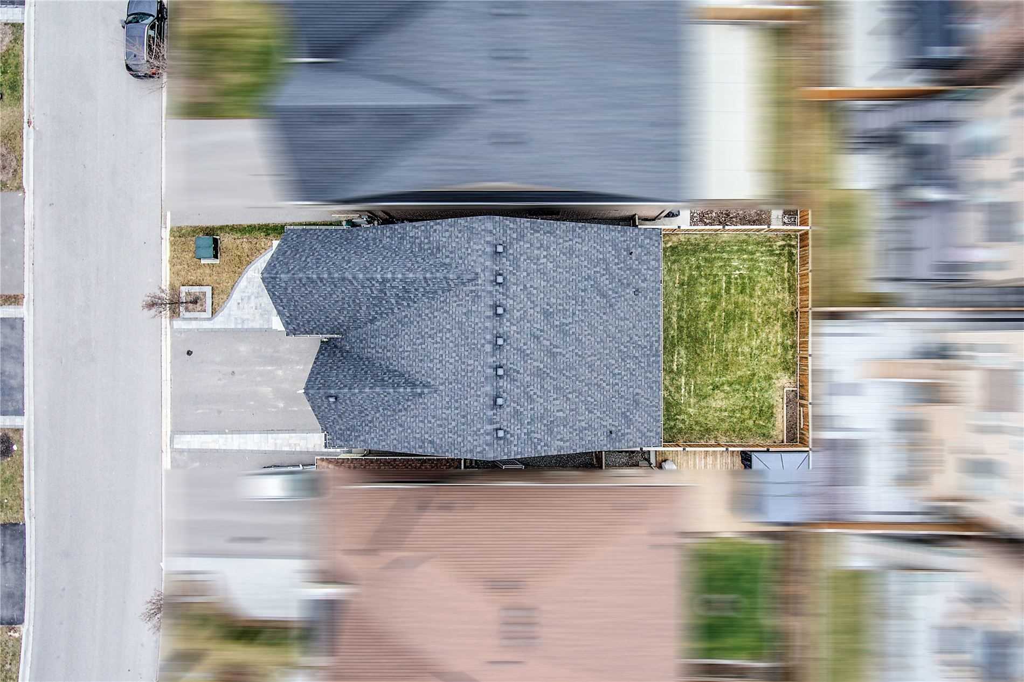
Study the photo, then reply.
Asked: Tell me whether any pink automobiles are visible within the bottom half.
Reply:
No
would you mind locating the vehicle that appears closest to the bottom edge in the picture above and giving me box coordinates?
[247,466,315,502]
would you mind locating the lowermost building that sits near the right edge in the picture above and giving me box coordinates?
[943,538,1024,682]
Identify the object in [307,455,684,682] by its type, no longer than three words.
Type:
house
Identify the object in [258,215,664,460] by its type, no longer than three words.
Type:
house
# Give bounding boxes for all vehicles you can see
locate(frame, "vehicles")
[124,0,167,82]
[247,466,315,502]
